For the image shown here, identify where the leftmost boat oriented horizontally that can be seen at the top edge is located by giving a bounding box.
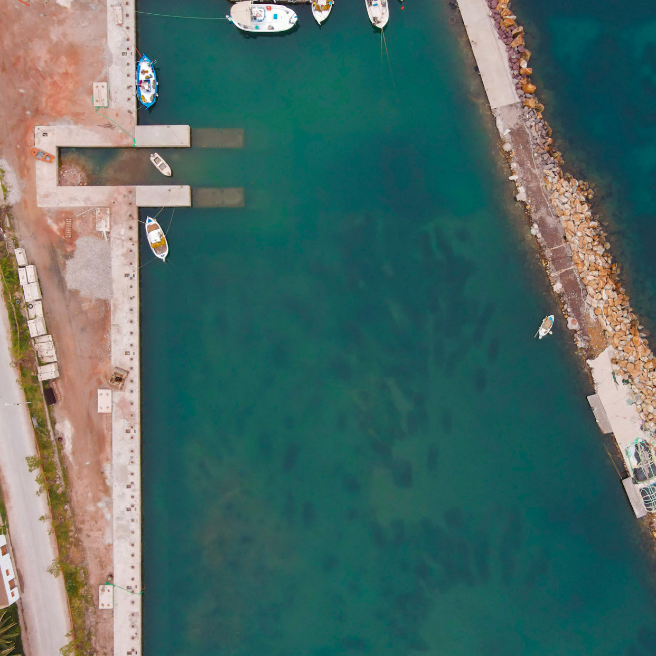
[225,0,298,31]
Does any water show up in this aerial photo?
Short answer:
Yes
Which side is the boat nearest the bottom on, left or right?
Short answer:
right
